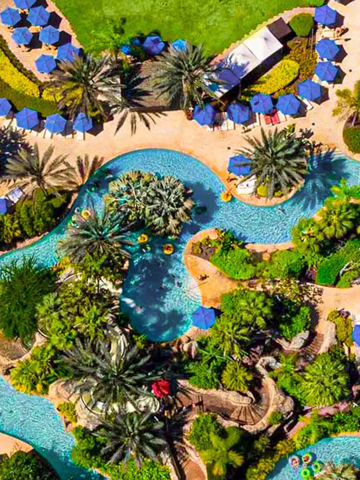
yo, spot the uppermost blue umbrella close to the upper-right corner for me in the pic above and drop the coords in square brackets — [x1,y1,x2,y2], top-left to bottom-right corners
[314,5,335,26]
